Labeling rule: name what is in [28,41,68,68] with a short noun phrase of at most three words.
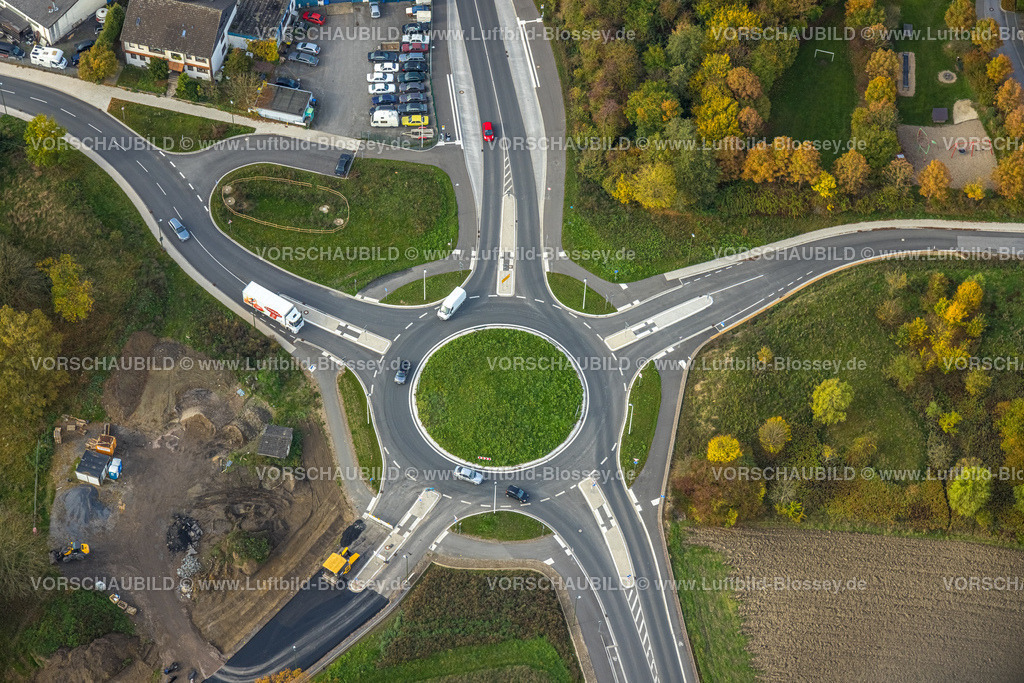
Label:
camper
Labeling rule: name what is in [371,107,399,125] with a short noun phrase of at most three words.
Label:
vehicle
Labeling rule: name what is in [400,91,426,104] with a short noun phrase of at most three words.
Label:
vehicle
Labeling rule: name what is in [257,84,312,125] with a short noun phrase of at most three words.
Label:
building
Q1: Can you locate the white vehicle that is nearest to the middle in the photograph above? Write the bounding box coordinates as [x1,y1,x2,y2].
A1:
[435,283,467,317]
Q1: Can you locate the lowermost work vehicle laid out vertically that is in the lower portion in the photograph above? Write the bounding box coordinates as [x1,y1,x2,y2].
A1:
[94,415,114,454]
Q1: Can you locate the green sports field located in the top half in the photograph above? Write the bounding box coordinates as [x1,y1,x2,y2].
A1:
[765,0,879,200]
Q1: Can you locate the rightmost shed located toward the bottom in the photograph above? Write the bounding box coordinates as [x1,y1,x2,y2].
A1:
[257,425,293,461]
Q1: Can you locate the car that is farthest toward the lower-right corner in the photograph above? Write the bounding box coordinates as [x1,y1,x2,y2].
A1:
[504,483,532,504]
